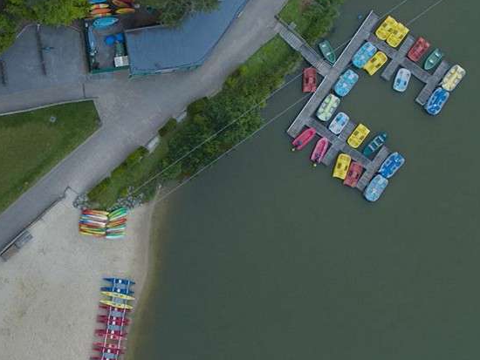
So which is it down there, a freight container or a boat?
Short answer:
boat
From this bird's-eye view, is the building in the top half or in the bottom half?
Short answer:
top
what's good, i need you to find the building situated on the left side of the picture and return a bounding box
[123,0,250,80]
